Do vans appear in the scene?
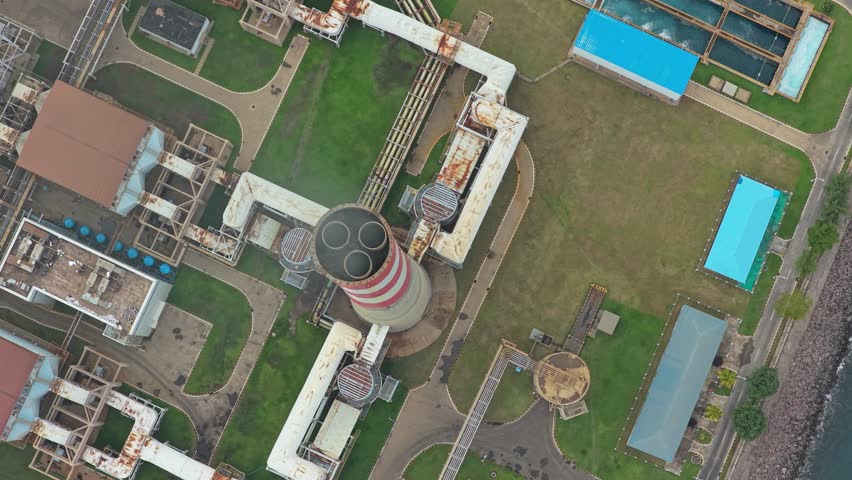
No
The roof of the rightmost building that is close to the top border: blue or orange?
blue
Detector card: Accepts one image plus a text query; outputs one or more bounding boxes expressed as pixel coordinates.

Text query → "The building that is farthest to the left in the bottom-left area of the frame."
[0,329,65,448]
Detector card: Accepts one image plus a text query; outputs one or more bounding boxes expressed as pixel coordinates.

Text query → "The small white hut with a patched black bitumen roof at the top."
[138,0,210,54]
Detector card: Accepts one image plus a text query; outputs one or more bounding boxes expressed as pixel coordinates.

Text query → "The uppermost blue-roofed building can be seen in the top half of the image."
[573,8,699,101]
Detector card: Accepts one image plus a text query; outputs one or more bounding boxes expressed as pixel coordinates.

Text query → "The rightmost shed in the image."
[704,176,780,284]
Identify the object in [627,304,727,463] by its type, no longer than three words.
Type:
shed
